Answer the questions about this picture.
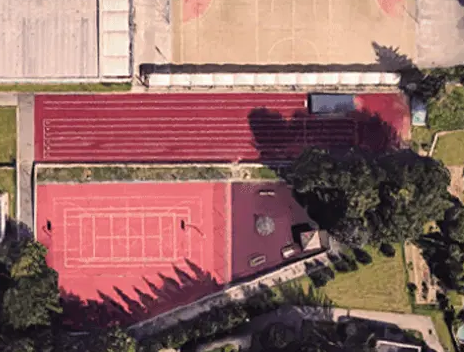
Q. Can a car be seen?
No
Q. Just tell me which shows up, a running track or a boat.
running track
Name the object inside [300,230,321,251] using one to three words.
building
